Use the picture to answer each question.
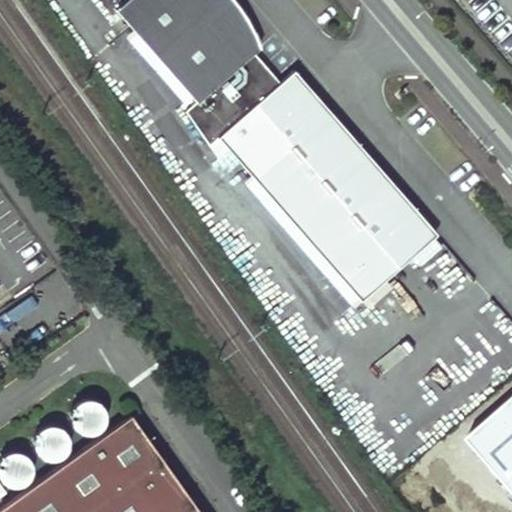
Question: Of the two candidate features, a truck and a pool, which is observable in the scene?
truck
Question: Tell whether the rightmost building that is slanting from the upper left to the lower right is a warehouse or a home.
warehouse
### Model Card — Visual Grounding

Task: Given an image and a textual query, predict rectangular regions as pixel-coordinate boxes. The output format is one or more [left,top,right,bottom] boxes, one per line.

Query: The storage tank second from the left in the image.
[32,425,75,464]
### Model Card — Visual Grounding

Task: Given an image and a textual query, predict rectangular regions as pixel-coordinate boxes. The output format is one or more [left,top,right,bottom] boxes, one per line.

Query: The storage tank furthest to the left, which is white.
[0,451,38,490]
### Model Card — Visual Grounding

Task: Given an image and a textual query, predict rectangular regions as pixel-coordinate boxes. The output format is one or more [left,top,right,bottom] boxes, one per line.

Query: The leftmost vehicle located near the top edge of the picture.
[316,7,337,26]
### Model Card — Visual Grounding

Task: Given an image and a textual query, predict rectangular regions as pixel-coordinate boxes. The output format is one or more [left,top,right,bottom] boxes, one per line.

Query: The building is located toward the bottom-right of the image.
[464,397,512,496]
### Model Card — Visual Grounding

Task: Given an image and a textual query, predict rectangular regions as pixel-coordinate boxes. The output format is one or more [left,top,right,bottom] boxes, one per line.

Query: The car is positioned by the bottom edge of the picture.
[230,486,244,506]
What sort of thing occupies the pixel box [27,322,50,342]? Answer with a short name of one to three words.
vehicle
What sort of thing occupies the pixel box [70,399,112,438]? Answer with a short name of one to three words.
storage tank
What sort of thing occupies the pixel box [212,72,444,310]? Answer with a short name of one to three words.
warehouse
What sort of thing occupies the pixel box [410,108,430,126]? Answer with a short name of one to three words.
car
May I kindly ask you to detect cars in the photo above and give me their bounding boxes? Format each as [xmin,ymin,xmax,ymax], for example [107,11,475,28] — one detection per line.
[410,108,430,126]
[470,0,486,10]
[230,486,244,506]
[493,20,512,42]
[485,11,508,32]
[460,173,480,192]
[500,35,512,52]
[20,242,42,260]
[477,0,500,22]
[416,116,436,136]
[316,7,337,26]
[26,252,48,270]
[450,162,472,182]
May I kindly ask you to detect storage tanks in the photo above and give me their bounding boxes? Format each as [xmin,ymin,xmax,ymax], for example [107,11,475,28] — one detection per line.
[32,425,75,464]
[70,399,112,438]
[0,451,38,490]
